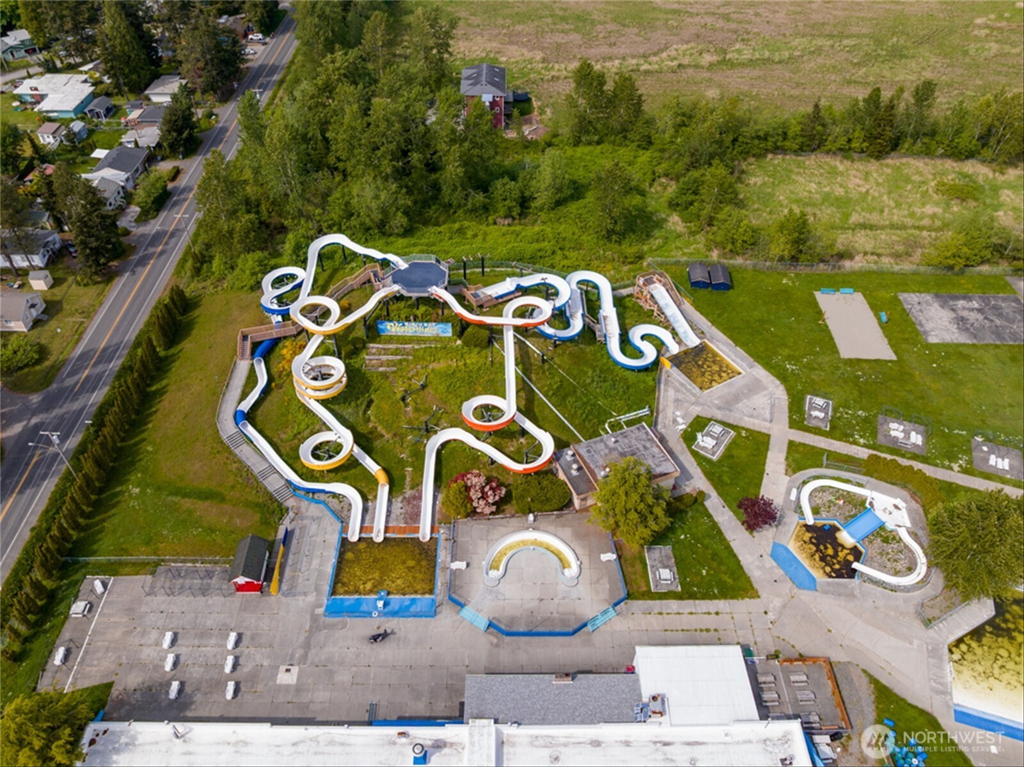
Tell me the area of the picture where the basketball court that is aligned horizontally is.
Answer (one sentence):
The basketball court that is aligned horizontally sits in the right section of the image.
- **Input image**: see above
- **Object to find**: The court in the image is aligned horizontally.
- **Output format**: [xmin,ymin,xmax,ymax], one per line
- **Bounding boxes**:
[898,293,1024,344]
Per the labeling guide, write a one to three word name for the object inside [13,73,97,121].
house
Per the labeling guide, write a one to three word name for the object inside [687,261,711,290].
shed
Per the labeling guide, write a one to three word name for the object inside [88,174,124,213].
building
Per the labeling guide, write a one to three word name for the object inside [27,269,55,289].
shed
